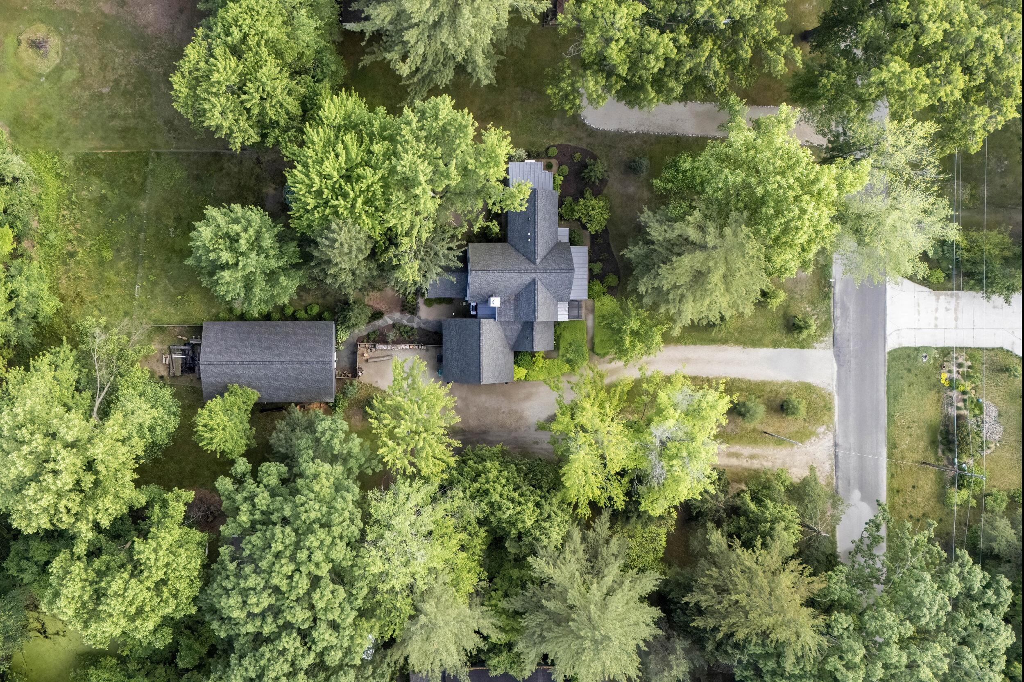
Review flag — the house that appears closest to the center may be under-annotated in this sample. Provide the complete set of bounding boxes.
[428,162,588,385]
